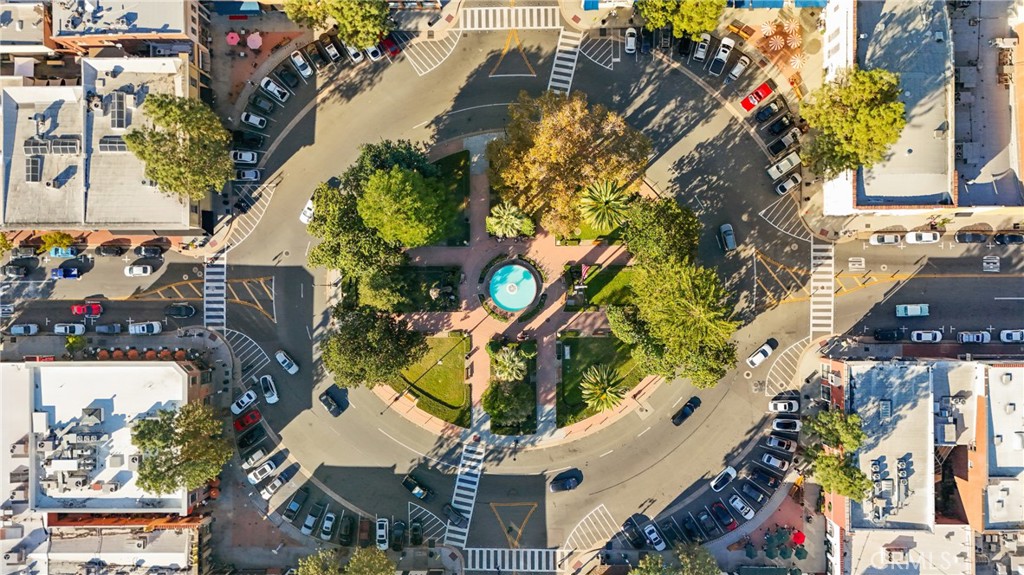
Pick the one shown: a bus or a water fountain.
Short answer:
water fountain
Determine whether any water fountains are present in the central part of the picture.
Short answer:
Yes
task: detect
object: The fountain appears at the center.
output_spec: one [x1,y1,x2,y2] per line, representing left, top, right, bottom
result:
[485,260,541,316]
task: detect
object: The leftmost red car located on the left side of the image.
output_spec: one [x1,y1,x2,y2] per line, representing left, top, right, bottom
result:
[72,302,105,316]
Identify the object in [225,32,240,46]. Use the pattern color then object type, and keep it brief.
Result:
pink umbrella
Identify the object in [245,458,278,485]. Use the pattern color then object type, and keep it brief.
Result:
white car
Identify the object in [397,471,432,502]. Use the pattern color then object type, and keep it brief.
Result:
black car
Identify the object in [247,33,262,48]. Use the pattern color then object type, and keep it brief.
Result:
pink umbrella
